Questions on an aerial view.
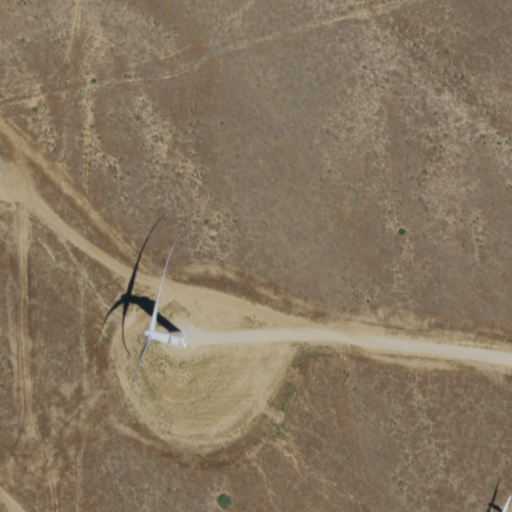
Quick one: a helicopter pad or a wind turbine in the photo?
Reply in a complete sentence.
Of the two, only a wind turbine appears.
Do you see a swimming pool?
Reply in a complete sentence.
No, the scene contains no swimming pool.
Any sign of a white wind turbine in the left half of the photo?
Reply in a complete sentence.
Yes, a white wind turbine shows up in the left half of the photo.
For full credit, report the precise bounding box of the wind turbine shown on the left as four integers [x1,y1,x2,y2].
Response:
[132,234,188,396]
